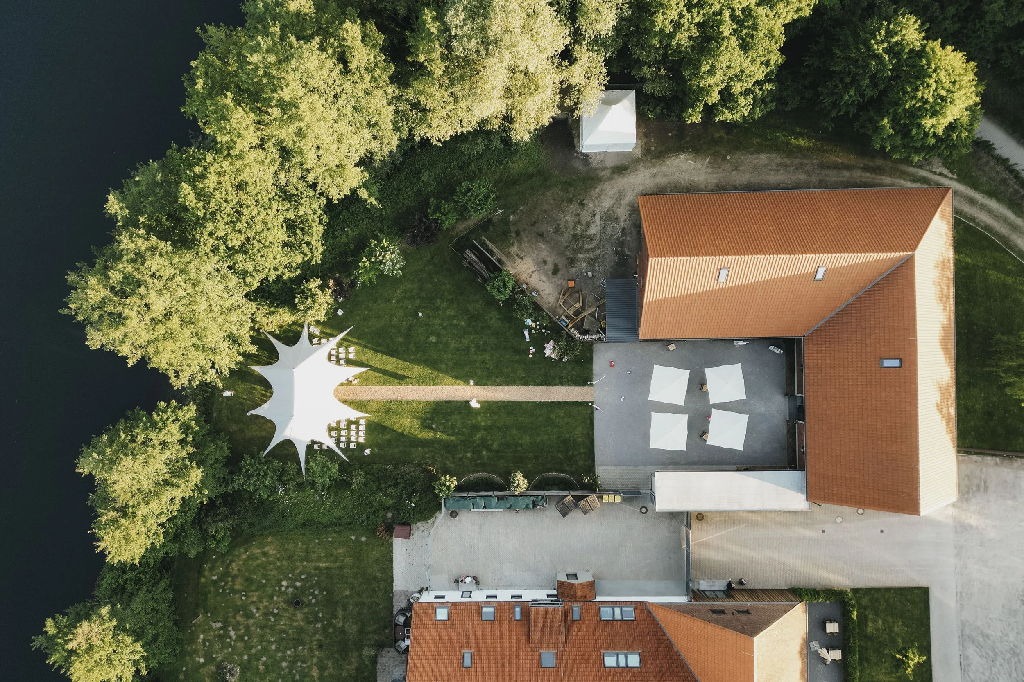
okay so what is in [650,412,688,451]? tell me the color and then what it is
white umbrella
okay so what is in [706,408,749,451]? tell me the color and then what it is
white umbrella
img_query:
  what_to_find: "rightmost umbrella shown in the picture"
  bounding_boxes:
[809,641,830,661]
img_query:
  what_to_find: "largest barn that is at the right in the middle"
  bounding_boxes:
[635,185,960,515]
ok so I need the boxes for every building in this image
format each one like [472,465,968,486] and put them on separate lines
[394,522,412,538]
[404,579,809,682]
[635,185,960,515]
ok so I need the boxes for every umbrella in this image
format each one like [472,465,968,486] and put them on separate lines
[650,412,688,451]
[706,408,749,451]
[704,363,746,404]
[809,641,830,661]
[648,365,690,406]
